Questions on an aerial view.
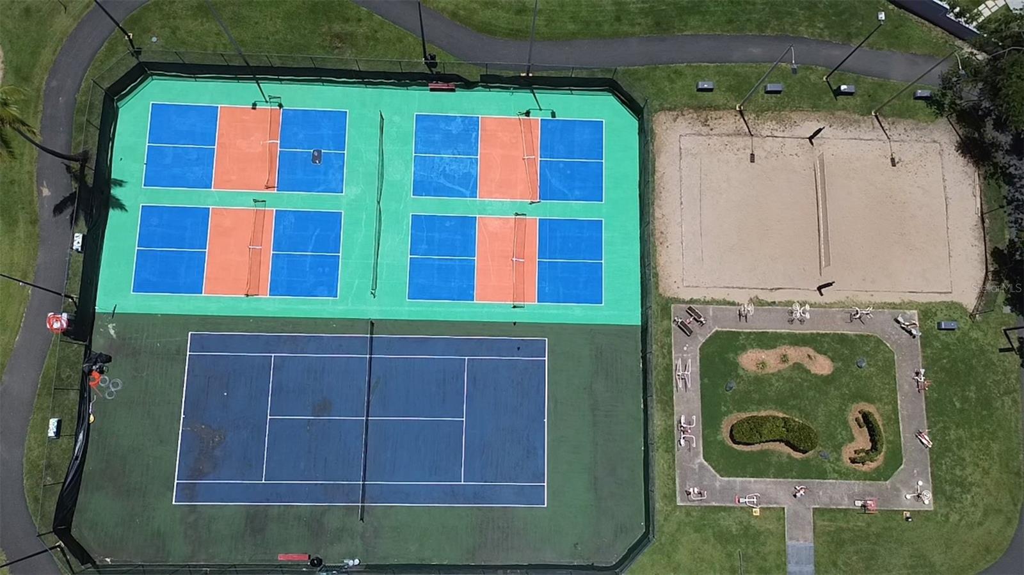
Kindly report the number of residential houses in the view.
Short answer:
0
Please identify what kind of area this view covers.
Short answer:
sports ground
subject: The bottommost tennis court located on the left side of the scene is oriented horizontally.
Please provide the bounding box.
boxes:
[67,312,644,564]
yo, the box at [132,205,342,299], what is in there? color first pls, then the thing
blue sports court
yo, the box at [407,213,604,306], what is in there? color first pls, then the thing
blue sports court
